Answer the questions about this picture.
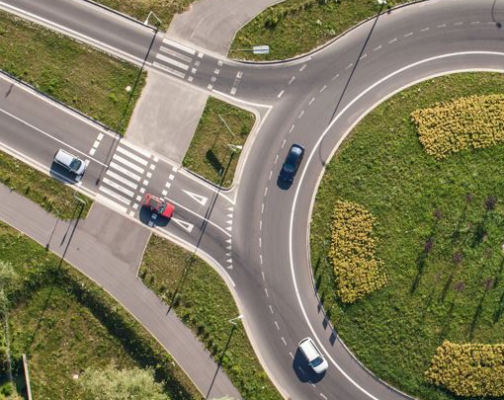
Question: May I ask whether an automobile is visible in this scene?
Yes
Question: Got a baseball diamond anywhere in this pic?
No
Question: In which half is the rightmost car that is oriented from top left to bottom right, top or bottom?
bottom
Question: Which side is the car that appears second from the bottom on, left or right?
left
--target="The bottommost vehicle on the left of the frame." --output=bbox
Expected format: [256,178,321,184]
[142,193,175,217]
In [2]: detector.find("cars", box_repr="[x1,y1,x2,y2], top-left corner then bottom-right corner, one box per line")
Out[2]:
[142,193,175,217]
[297,336,328,372]
[281,143,305,184]
[52,148,87,174]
